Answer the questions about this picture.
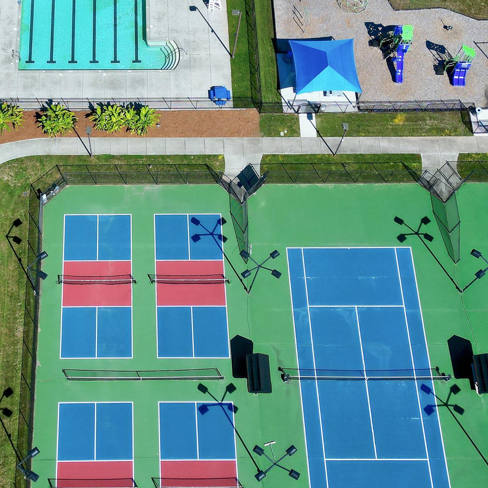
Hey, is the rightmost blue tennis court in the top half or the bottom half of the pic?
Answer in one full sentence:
The rightmost blue tennis court sits in the bottom half of the picture.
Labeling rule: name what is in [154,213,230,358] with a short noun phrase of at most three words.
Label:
sports court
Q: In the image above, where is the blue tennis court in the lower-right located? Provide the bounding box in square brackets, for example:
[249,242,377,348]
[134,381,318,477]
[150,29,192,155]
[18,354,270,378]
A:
[287,246,450,488]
